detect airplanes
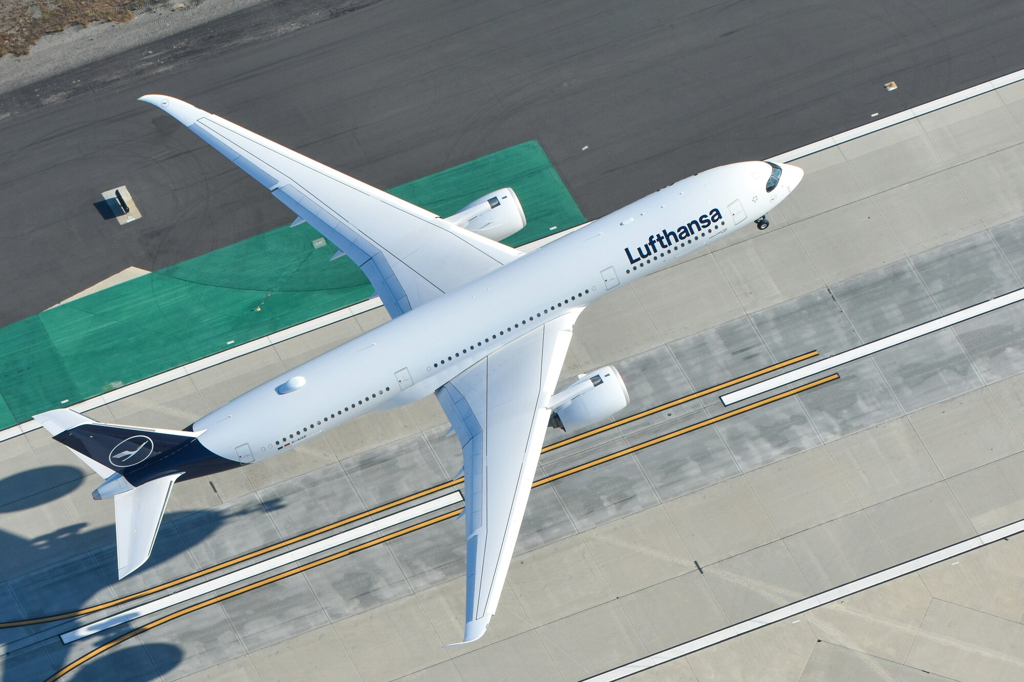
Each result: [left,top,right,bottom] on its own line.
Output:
[31,93,804,650]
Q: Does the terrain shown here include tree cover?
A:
No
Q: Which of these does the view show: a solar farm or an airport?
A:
airport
